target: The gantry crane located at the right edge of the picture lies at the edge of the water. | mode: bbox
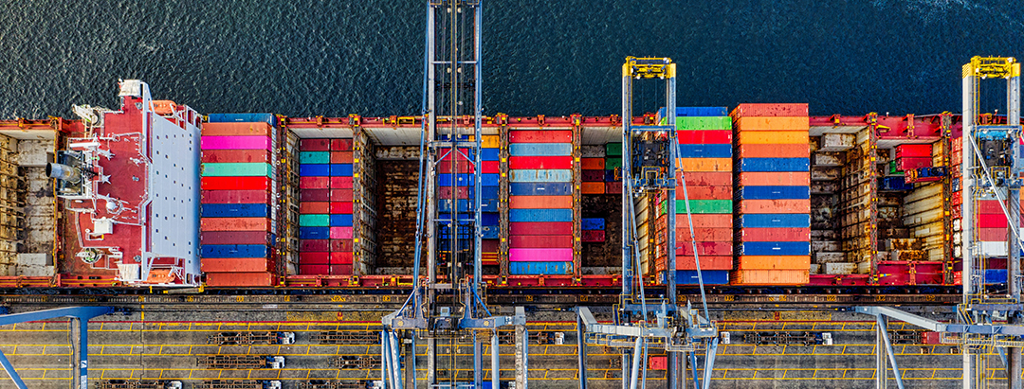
[828,57,1024,389]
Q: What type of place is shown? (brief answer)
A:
port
